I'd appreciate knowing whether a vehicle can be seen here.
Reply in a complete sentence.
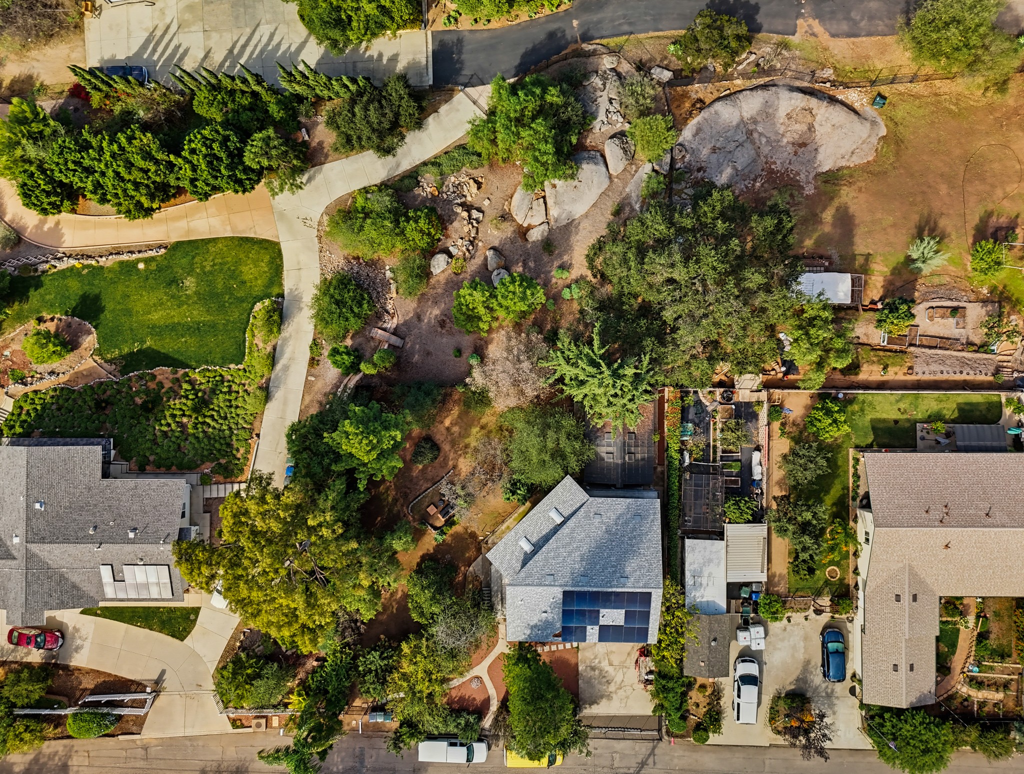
Yes, there's a vehicle here.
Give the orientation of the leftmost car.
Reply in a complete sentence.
From this overhead view, the leftmost car appears to run from side to side.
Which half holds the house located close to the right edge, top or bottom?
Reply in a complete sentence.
The house located close to the right edge sits in the bottom half of the picture.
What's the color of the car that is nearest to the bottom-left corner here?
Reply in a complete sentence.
In this view, the car that is nearest to the bottom-left corner is red.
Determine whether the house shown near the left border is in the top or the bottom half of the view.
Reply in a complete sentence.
The house shown near the left border is in the bottom half of the image.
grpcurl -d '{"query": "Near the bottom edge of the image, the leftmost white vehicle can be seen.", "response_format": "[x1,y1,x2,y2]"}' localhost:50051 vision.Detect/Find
[417,735,488,768]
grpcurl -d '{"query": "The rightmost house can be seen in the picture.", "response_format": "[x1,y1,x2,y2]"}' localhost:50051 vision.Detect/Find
[849,451,1024,708]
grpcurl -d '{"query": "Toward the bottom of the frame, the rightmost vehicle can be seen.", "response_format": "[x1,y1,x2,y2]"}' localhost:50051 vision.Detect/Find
[818,626,848,683]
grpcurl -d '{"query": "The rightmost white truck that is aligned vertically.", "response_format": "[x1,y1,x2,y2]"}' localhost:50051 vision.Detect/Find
[731,655,761,729]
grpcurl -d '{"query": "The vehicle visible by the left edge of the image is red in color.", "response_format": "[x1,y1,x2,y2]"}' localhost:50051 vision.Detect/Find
[7,625,68,654]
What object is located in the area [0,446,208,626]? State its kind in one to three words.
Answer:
house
